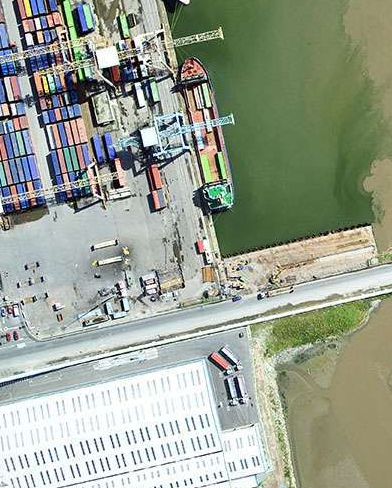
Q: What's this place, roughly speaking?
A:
port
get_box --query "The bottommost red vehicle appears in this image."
[208,353,231,375]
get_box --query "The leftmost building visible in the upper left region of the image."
[93,91,117,125]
